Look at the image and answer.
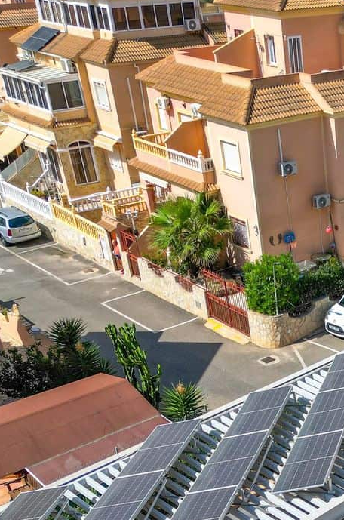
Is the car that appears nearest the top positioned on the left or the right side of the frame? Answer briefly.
left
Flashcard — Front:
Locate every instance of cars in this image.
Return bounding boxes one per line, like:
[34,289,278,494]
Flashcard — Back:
[0,202,52,245]
[317,291,344,338]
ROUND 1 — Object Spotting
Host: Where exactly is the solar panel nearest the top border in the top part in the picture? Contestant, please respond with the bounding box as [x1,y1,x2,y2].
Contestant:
[22,26,65,47]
